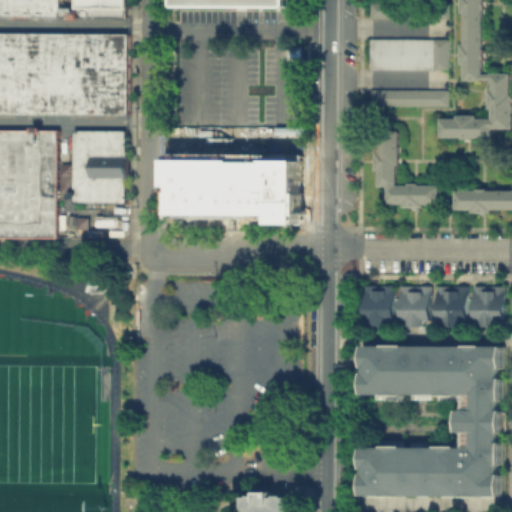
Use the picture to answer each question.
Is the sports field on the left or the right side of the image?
left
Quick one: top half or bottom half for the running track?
bottom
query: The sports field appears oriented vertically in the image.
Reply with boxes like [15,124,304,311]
[0,276,111,512]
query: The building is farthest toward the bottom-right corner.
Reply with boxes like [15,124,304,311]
[354,344,496,498]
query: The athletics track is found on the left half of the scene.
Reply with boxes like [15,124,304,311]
[0,268,120,512]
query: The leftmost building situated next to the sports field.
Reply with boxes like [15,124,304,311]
[0,128,58,239]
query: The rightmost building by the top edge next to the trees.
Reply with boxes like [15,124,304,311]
[438,0,510,139]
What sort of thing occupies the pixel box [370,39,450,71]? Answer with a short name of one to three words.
building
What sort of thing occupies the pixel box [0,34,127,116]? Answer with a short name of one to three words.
building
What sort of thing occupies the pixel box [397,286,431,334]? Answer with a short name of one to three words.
house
